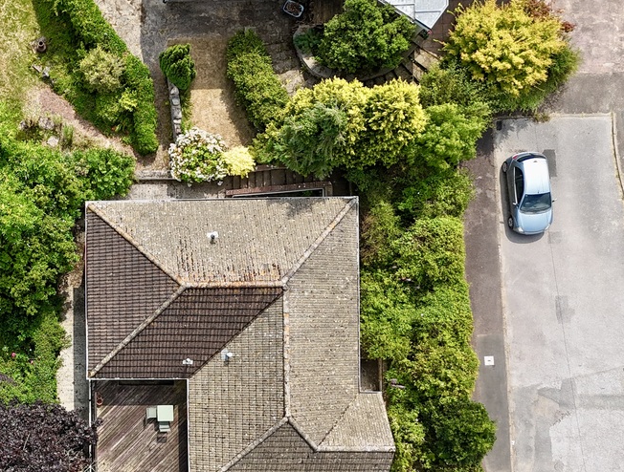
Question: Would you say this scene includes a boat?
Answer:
No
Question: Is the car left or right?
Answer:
right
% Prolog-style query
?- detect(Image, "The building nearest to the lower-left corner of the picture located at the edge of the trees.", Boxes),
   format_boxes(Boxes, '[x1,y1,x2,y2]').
[84,195,396,472]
